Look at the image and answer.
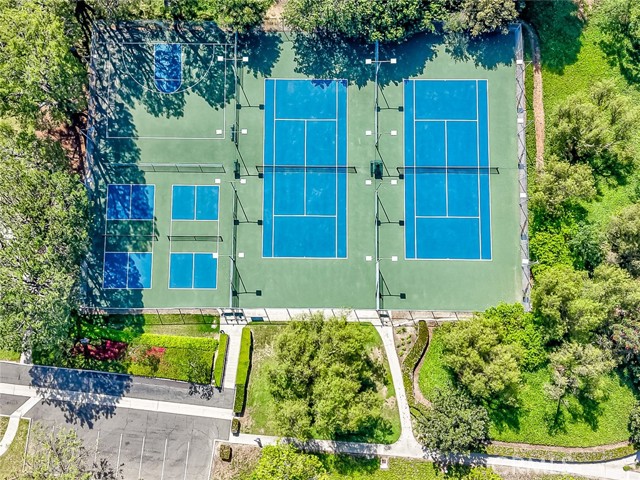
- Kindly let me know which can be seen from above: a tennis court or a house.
tennis court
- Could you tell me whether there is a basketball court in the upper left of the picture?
Yes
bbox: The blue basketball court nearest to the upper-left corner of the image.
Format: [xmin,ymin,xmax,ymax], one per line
[105,43,236,138]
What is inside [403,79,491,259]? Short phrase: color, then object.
blue tennis court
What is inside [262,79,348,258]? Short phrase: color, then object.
blue tennis court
